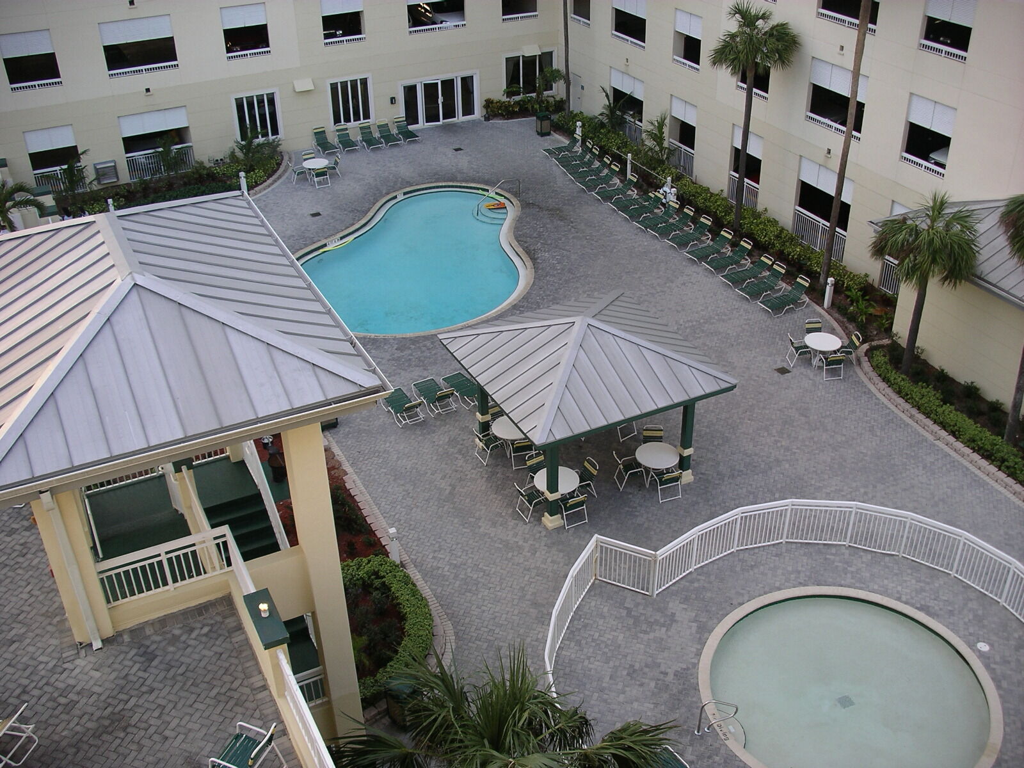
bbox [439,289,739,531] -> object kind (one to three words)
gazebo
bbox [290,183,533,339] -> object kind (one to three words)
swimming pool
